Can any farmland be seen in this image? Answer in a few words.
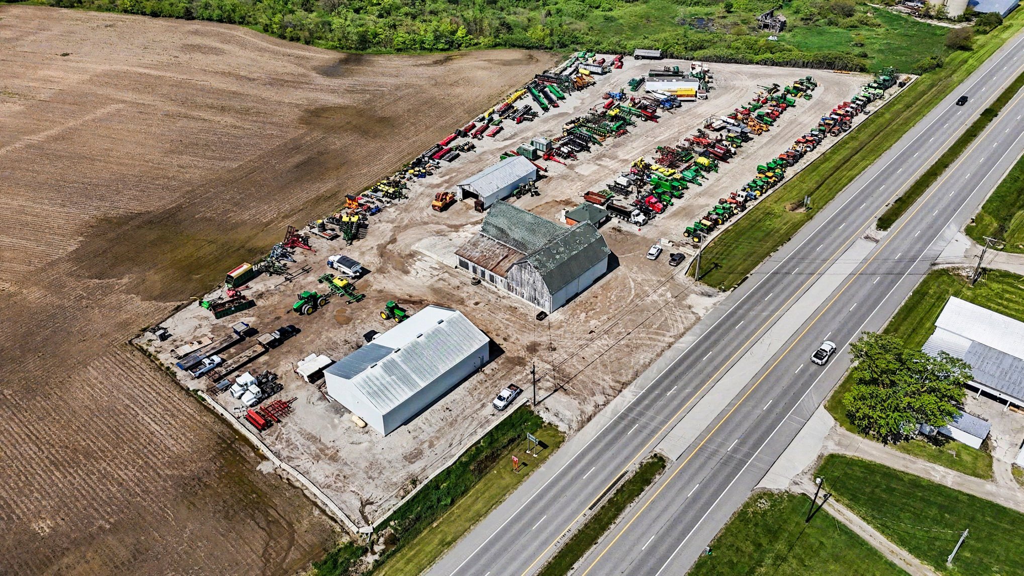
Yes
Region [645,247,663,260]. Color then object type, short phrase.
white vehicle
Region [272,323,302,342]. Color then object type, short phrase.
black vehicle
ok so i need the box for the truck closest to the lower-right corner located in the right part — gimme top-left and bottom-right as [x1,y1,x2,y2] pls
[811,343,836,365]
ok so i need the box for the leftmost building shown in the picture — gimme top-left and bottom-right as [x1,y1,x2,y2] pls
[320,306,491,435]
